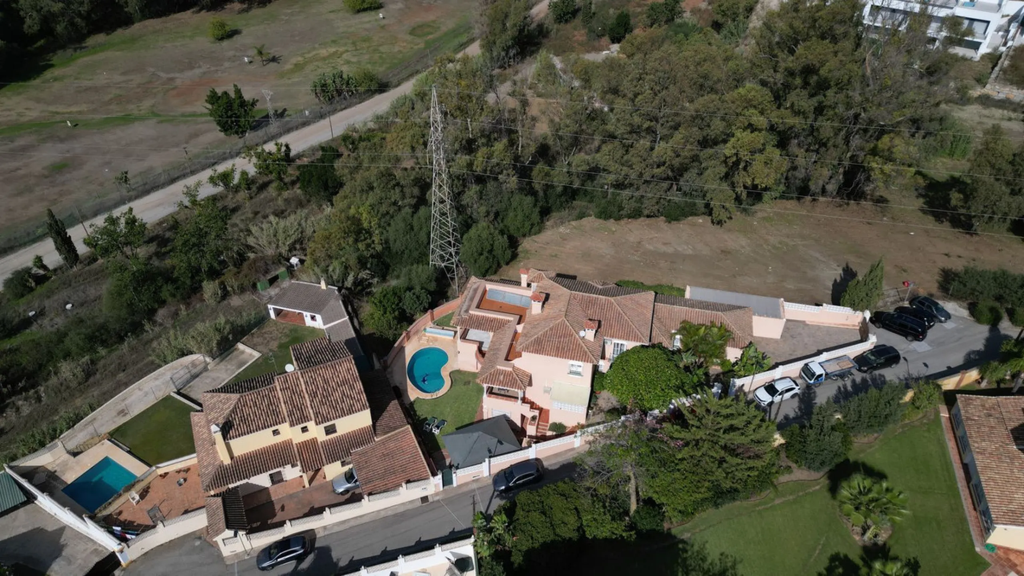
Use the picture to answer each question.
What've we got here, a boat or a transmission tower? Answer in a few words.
transmission tower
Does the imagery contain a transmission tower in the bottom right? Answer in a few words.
No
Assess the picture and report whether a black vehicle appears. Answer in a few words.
Yes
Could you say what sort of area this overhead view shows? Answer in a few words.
residential area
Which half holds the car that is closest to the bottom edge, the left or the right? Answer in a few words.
left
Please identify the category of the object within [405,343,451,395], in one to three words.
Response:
swimming pool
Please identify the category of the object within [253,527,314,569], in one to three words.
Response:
car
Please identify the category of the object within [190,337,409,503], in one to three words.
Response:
house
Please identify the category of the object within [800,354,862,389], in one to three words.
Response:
truck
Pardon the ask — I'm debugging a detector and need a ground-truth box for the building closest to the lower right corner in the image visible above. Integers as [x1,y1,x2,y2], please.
[947,394,1024,546]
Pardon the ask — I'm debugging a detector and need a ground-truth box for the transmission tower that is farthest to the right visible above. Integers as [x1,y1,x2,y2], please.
[429,83,468,294]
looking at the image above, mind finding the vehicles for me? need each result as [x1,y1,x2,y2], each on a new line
[491,455,548,492]
[800,354,862,389]
[327,465,361,496]
[253,527,314,569]
[755,371,806,405]
[855,343,906,375]
[868,309,936,344]
[906,288,960,323]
